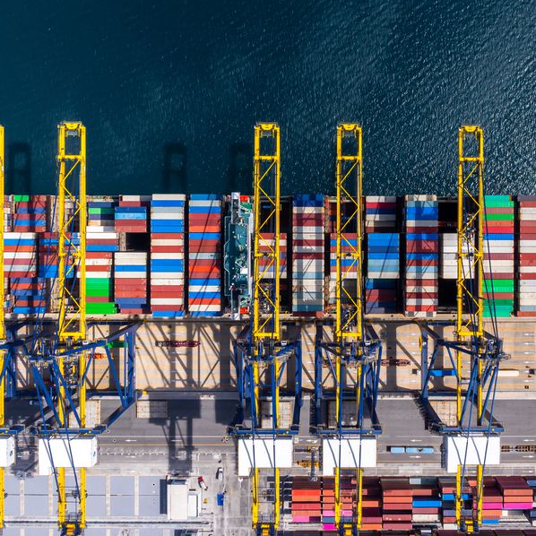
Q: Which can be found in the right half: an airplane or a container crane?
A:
container crane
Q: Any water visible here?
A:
Yes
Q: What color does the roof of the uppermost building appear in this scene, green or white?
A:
white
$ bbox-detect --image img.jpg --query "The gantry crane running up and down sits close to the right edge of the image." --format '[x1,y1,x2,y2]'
[417,121,512,535]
